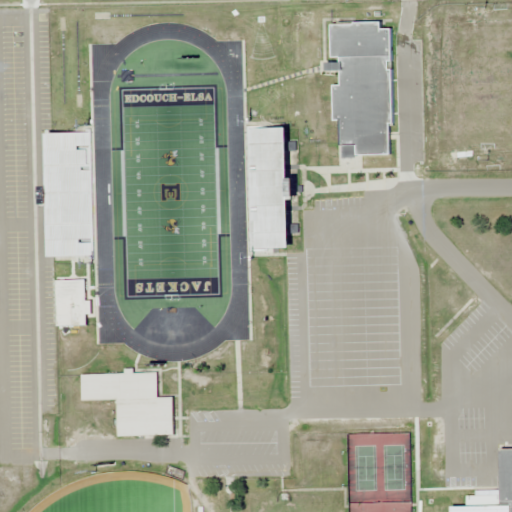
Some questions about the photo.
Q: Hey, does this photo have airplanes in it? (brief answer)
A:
No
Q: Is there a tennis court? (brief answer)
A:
Yes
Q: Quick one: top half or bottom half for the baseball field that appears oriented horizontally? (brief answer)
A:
bottom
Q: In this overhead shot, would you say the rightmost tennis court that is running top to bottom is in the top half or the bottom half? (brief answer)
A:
bottom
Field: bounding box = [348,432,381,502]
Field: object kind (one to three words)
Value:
tennis court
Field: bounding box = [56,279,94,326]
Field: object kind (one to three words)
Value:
building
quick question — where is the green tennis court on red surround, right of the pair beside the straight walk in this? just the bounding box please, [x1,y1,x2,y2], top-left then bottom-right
[380,432,412,502]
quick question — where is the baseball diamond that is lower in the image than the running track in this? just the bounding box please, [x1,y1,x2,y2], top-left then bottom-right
[32,471,192,512]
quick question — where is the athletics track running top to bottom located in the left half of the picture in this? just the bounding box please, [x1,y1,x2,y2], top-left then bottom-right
[92,24,250,362]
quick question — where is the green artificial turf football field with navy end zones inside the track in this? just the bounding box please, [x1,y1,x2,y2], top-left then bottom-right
[110,40,232,345]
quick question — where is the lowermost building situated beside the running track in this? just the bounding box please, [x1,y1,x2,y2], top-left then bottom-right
[81,368,177,436]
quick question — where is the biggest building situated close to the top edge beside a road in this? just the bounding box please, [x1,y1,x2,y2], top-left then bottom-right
[324,21,395,158]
